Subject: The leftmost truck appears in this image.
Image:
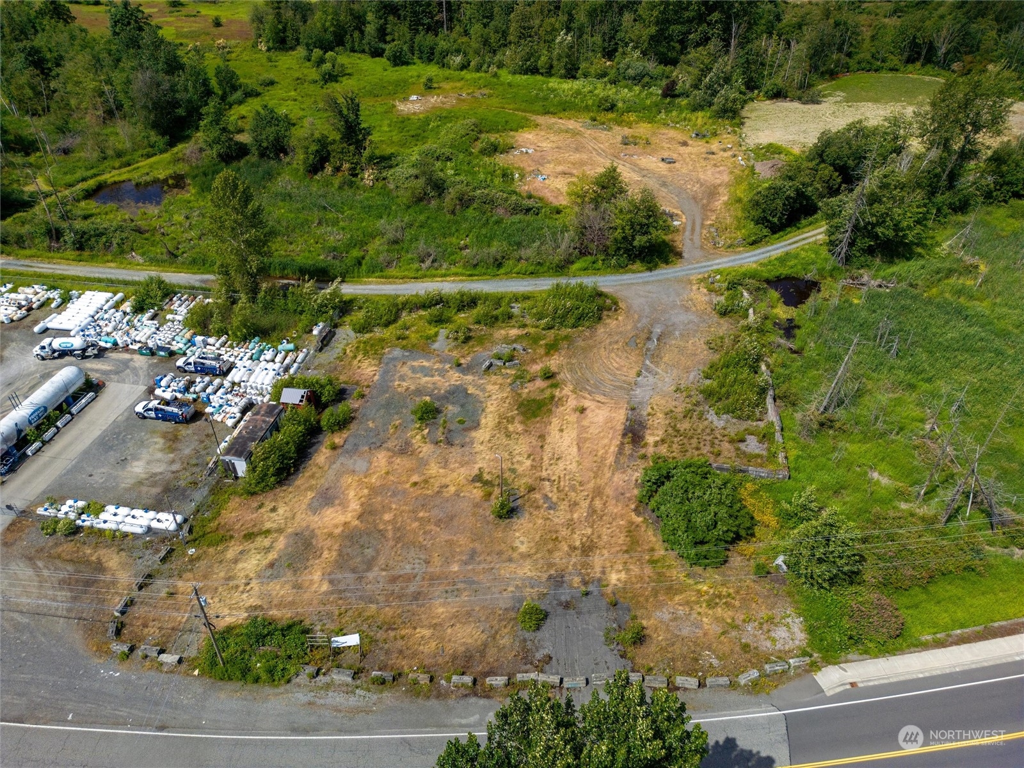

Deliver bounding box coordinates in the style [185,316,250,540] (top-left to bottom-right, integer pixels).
[27,334,99,359]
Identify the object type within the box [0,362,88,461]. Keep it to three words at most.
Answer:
storage tank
